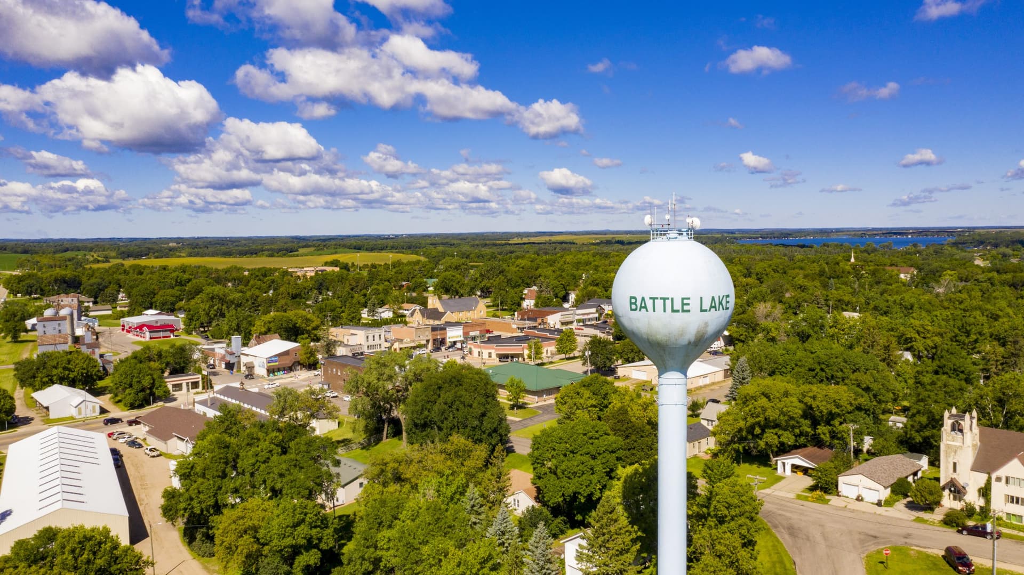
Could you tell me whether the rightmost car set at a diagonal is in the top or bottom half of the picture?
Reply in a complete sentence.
The rightmost car set at a diagonal is in the bottom half of the image.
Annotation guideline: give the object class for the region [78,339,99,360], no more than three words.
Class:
shed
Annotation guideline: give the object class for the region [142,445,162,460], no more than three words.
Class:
vehicle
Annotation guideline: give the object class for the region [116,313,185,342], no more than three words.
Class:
building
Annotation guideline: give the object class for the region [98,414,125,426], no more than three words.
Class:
vehicle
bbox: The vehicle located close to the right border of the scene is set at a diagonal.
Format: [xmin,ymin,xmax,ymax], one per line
[937,543,984,575]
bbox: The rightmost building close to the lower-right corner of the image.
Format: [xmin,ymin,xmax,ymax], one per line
[931,421,1024,542]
